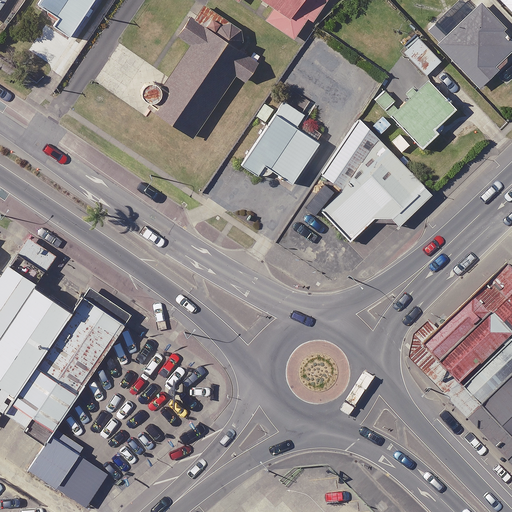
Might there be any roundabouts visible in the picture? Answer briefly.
Yes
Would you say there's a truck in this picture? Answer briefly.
Yes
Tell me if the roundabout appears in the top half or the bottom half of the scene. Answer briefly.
bottom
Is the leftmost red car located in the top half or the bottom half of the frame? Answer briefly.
top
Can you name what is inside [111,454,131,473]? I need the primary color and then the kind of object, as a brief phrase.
blue car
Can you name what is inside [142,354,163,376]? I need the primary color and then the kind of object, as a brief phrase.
white vehicle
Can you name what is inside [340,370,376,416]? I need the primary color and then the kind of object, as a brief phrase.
white truck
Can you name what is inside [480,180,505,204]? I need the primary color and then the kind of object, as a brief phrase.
white vehicle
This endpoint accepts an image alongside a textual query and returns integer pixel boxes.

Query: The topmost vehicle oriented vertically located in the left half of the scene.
[154,303,167,330]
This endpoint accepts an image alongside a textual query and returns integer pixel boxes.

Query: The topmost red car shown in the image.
[42,144,70,164]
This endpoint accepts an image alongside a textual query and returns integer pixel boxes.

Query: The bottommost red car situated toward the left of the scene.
[169,445,193,461]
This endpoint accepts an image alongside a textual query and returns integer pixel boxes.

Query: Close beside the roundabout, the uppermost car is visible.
[289,310,316,328]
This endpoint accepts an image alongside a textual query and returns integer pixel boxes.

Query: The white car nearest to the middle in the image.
[176,293,200,314]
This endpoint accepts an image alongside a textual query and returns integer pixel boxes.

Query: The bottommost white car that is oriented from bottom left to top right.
[186,458,208,480]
